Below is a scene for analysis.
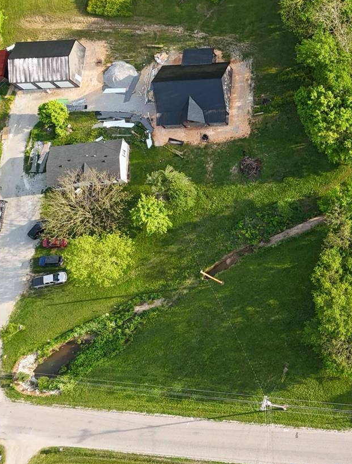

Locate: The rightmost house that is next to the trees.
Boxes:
[150,48,232,133]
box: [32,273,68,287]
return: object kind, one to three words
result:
vehicle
